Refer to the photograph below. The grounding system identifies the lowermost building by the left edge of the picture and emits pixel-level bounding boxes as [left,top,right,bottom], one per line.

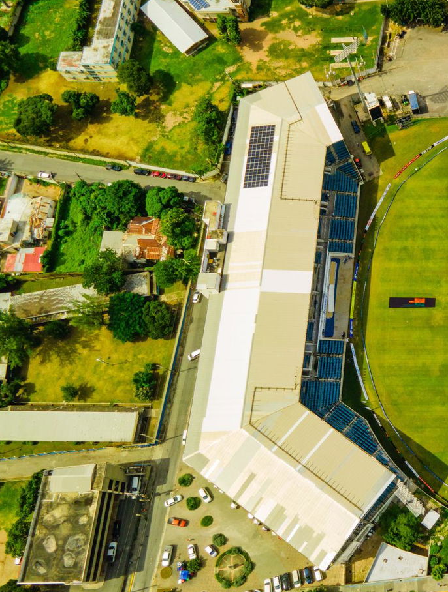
[17,463,140,586]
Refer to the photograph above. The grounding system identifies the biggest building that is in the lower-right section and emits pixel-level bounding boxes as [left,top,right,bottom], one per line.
[365,542,429,582]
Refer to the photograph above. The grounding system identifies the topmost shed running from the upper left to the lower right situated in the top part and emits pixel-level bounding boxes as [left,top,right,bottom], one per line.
[141,0,211,60]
